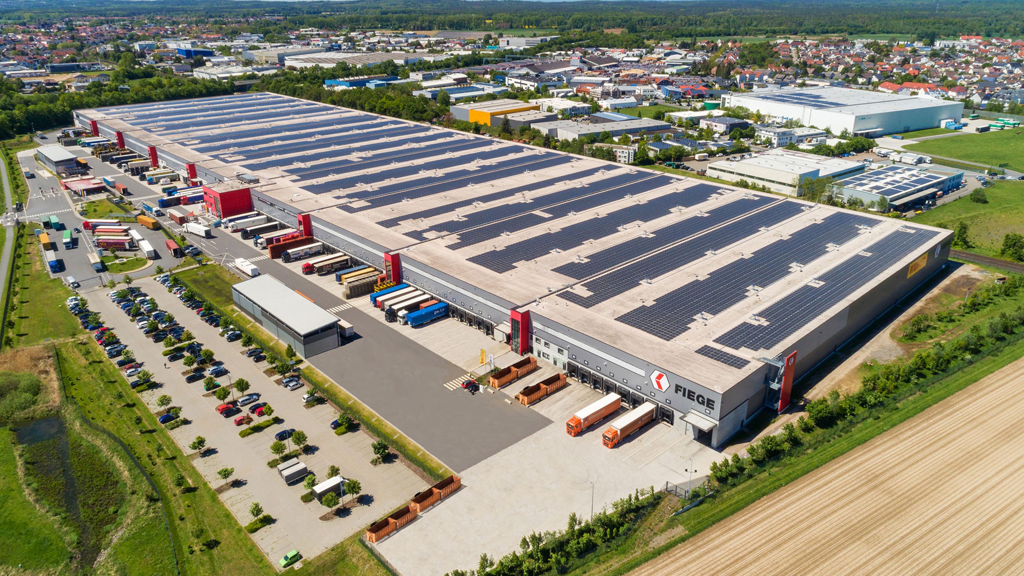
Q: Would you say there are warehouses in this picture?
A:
Yes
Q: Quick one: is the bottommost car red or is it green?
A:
green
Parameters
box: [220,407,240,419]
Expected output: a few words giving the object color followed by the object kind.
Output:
black vehicle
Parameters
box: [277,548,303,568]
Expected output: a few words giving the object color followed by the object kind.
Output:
green car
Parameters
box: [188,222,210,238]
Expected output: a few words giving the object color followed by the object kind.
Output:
white vehicle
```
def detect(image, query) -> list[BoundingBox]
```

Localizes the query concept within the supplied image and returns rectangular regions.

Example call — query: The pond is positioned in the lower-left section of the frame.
[13,415,89,531]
